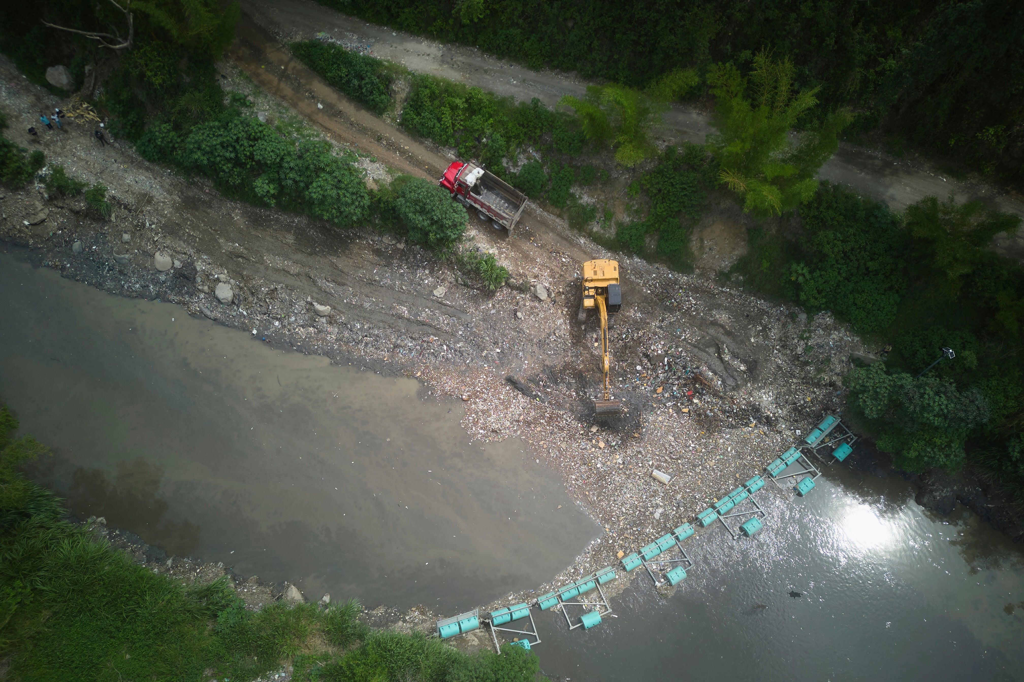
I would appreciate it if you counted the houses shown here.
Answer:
0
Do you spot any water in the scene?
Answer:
Yes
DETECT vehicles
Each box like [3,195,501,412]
[441,153,535,239]
[576,262,624,407]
